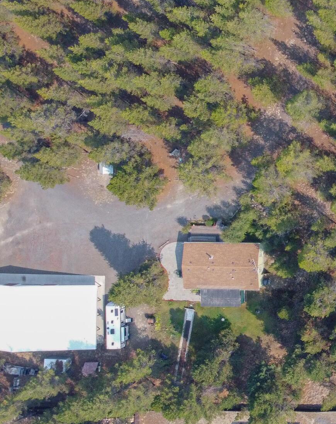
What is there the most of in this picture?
trees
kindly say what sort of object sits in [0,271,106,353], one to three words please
barn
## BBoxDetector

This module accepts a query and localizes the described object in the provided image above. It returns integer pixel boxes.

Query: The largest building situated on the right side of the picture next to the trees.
[179,244,264,306]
